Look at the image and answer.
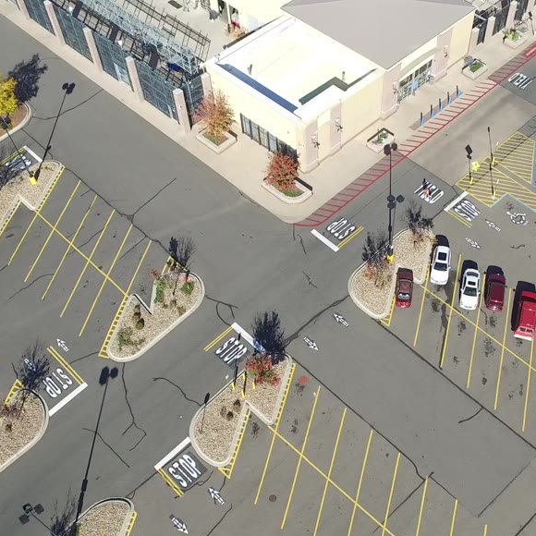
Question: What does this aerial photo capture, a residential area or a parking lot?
parking lot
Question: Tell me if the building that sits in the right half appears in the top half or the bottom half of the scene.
top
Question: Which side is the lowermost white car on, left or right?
right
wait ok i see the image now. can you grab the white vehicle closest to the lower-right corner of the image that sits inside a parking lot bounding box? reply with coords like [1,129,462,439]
[459,268,481,312]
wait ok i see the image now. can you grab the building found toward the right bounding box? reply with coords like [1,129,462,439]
[194,0,481,173]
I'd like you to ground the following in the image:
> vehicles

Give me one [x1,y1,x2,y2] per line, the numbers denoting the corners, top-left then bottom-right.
[430,245,451,286]
[484,273,508,315]
[459,268,481,312]
[513,290,536,343]
[393,268,415,310]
